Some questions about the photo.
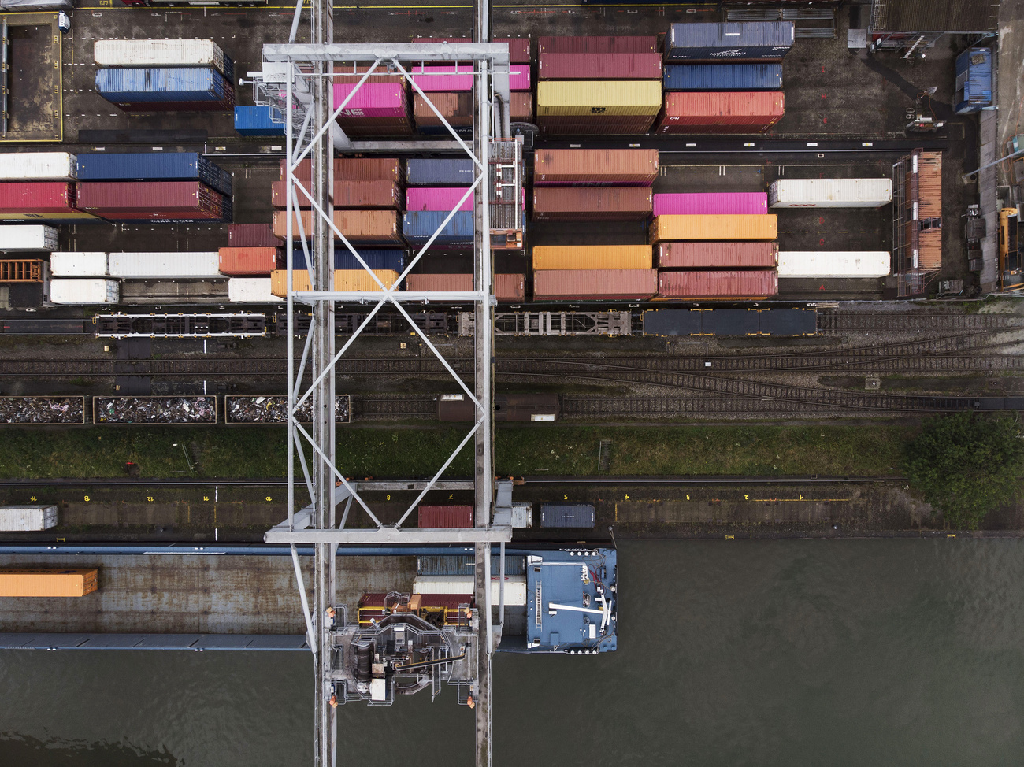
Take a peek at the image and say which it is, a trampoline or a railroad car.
railroad car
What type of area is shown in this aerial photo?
port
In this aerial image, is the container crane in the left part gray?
Yes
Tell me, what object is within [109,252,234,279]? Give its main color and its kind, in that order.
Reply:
white shipping container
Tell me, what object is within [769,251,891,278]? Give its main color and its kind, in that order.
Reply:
white shipping container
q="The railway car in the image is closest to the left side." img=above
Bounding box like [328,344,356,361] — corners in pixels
[0,394,93,426]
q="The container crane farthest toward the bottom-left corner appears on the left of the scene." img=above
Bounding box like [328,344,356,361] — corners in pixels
[238,0,542,767]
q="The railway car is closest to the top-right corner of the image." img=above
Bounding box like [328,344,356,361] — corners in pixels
[637,308,822,335]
